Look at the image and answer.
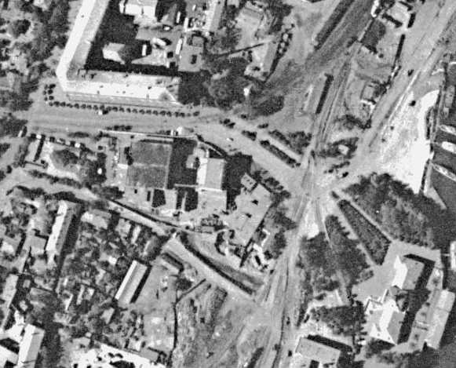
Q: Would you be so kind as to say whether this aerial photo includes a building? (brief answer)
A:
Yes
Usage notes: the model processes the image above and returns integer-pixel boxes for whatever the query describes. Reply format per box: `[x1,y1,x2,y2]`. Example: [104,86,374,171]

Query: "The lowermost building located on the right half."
[294,336,343,368]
